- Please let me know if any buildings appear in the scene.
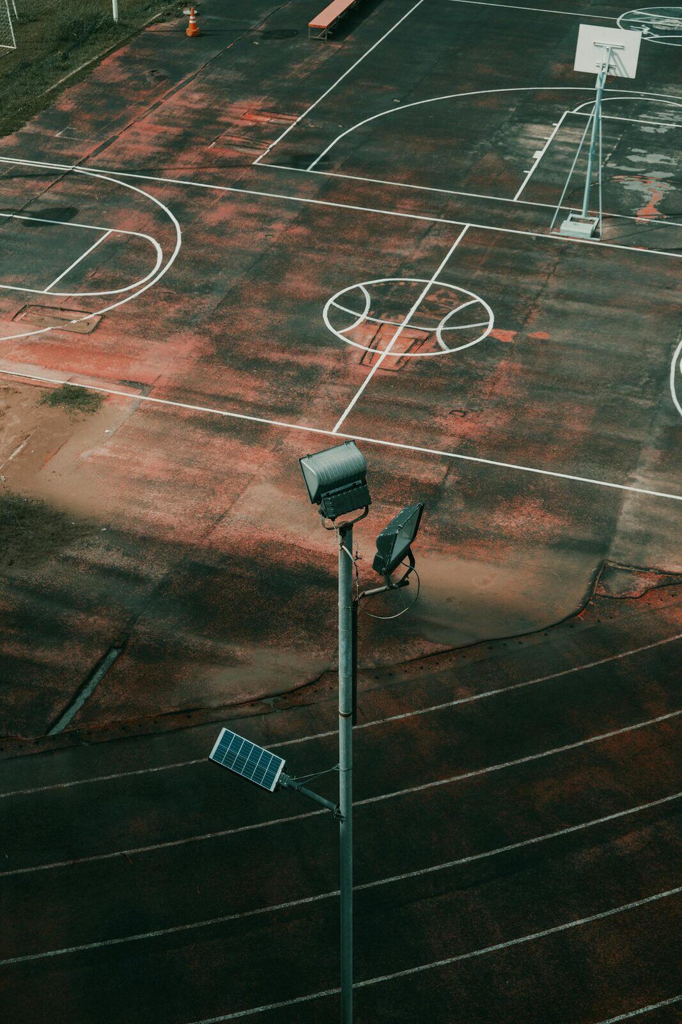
No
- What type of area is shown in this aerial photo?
sports ground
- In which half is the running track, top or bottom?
bottom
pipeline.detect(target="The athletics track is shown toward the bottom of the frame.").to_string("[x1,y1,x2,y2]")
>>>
[0,597,682,1024]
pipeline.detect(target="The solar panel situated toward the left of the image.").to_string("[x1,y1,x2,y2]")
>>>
[212,735,281,792]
